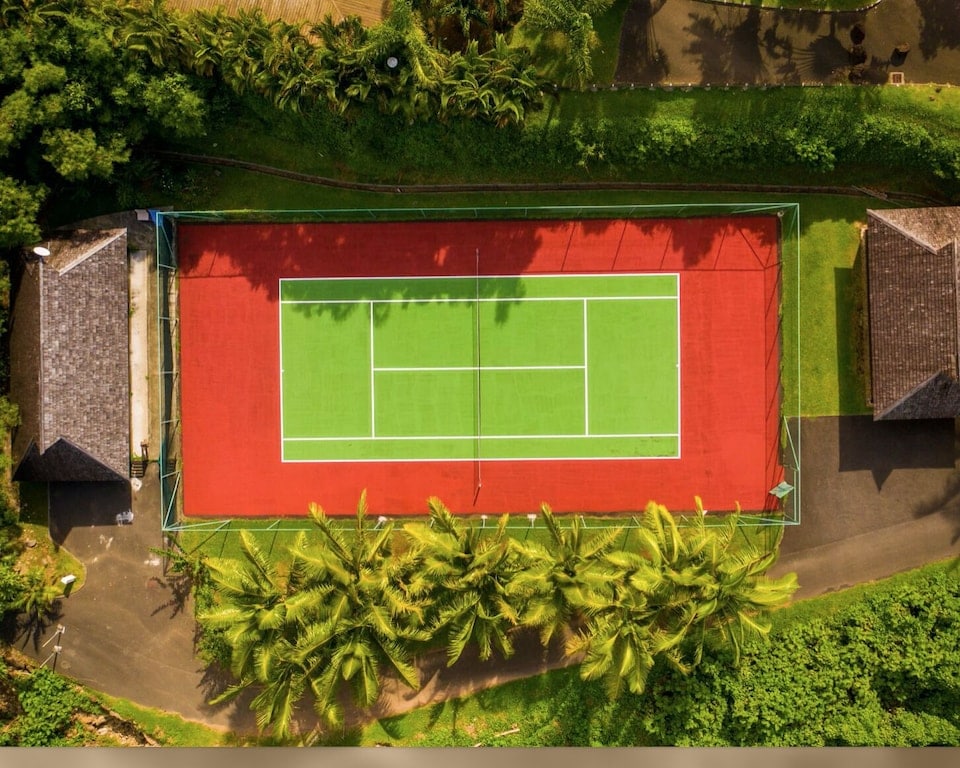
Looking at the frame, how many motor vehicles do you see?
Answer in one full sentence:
I count no motor vehicles.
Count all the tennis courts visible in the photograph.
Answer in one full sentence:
The picture shows just 1 tennis court.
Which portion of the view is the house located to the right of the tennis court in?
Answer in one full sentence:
The house located to the right of the tennis court is located in the right region of the scene.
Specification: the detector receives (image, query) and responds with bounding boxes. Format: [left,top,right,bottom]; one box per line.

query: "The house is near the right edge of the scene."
[860,205,960,423]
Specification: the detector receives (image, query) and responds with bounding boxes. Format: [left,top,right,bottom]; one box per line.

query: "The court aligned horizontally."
[174,212,786,520]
